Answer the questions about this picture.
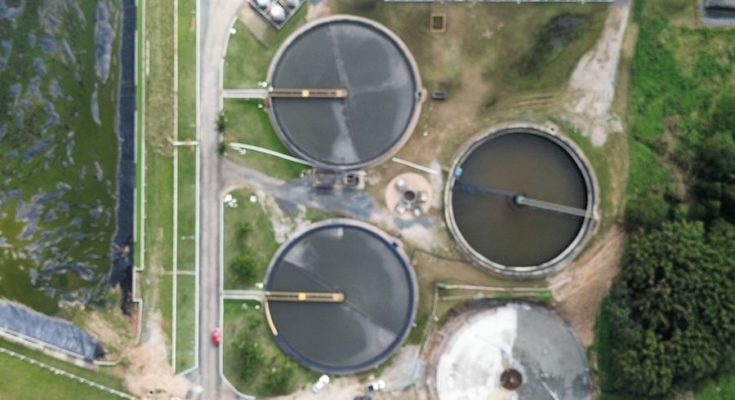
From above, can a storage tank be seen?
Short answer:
Yes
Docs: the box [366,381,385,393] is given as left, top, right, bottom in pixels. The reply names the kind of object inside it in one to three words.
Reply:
vehicle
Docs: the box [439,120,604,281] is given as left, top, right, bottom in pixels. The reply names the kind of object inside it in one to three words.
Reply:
storage tank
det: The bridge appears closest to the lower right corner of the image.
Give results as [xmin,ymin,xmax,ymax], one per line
[452,187,604,220]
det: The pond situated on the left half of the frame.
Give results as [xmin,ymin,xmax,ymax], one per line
[0,0,122,319]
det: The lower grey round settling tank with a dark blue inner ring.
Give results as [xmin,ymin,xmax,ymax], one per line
[258,218,421,376]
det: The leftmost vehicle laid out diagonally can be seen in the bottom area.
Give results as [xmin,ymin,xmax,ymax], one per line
[311,374,329,395]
